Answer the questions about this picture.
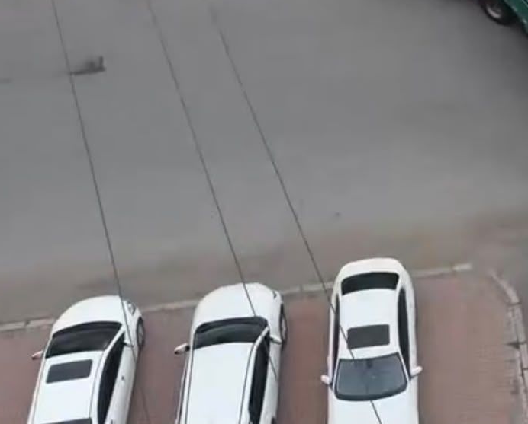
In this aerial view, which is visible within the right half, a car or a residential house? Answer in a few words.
car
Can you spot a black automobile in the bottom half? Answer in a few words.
No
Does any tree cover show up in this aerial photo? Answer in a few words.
No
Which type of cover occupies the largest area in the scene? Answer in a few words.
paved ground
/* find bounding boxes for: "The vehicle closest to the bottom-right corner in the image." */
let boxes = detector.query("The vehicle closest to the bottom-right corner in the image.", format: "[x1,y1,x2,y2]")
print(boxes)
[317,260,425,424]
